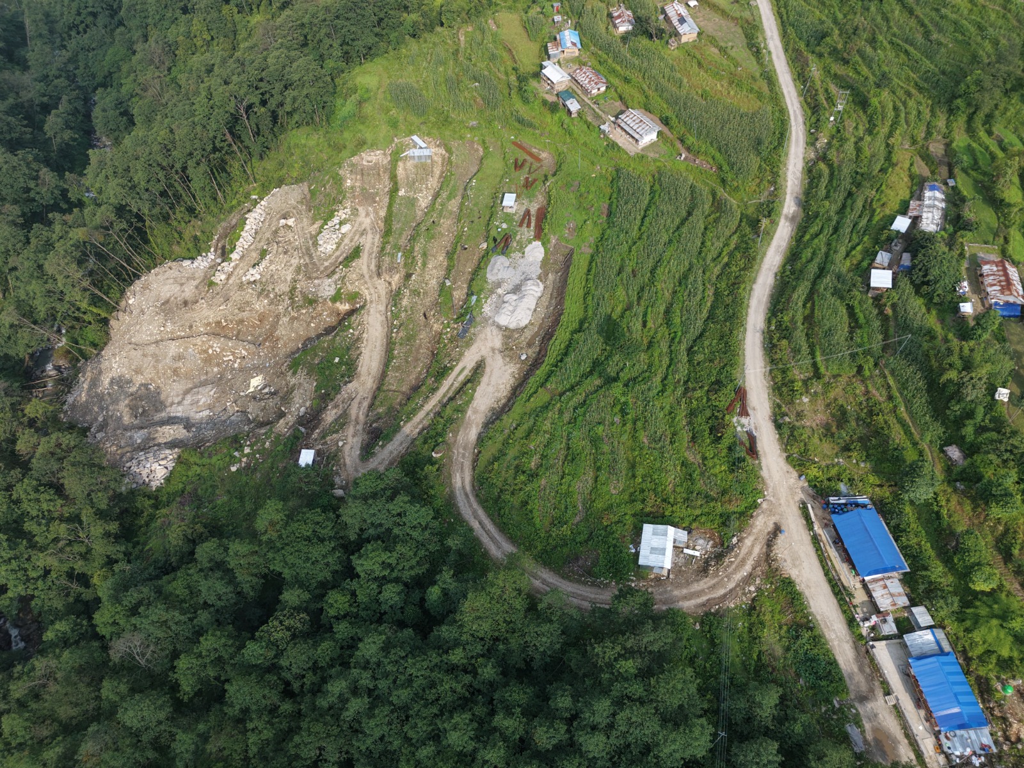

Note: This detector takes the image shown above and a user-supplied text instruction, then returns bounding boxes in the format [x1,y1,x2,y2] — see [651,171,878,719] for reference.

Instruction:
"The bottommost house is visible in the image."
[903,656,985,737]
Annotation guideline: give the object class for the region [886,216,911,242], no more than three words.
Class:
shed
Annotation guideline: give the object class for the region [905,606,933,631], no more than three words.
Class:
shed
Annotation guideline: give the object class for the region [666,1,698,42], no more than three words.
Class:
house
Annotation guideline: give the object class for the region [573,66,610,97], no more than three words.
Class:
house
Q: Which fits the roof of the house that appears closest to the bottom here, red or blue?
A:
blue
